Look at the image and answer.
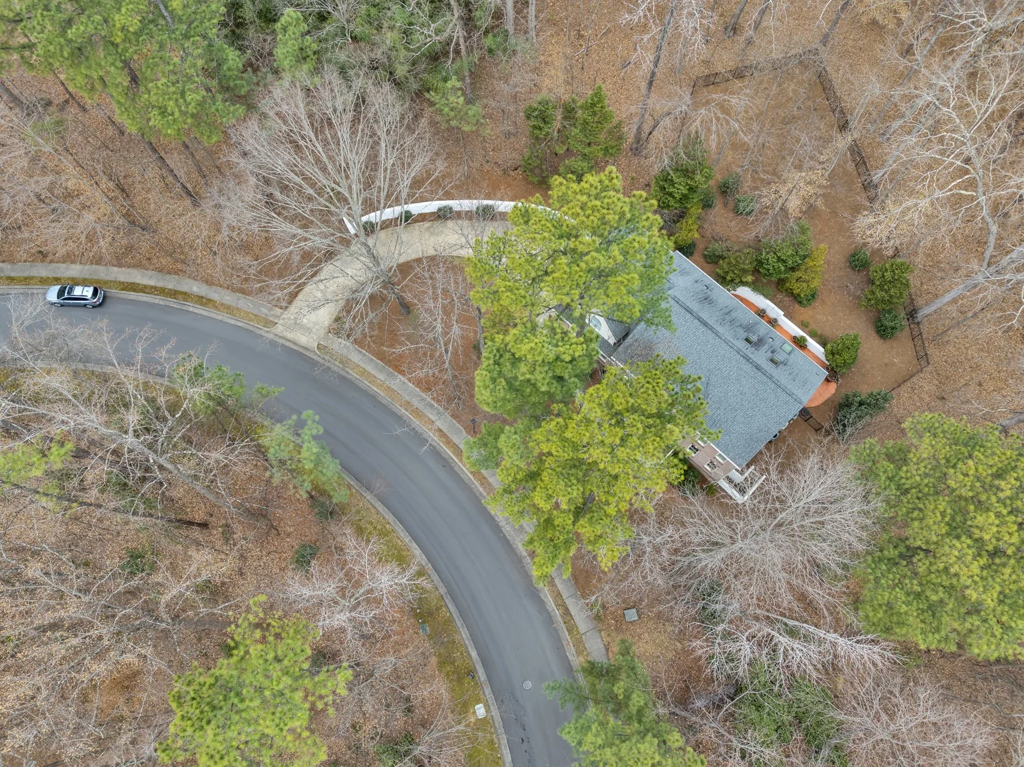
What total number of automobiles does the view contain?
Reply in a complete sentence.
I count 1 automobile.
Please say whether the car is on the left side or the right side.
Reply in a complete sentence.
The car sits on the left side.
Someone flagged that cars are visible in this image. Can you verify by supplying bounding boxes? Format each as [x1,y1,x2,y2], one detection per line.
[44,281,107,311]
